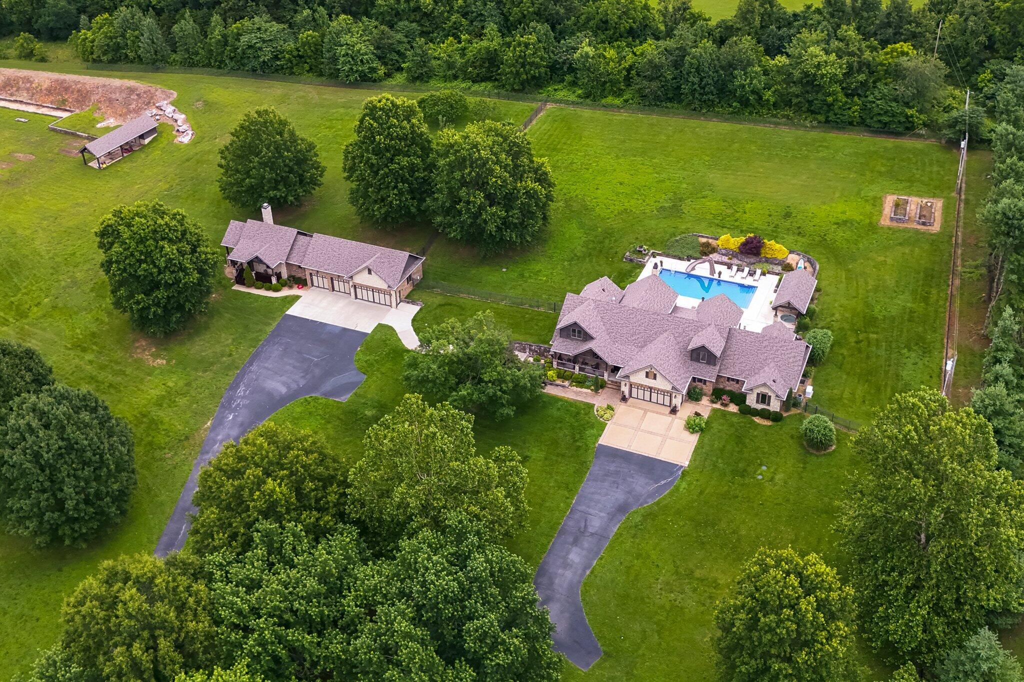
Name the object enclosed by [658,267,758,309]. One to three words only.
swimming pool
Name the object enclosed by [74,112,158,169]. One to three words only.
shed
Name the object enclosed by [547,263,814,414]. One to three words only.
house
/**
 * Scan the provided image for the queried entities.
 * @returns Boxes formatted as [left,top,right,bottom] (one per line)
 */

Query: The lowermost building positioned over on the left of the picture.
[220,198,426,308]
